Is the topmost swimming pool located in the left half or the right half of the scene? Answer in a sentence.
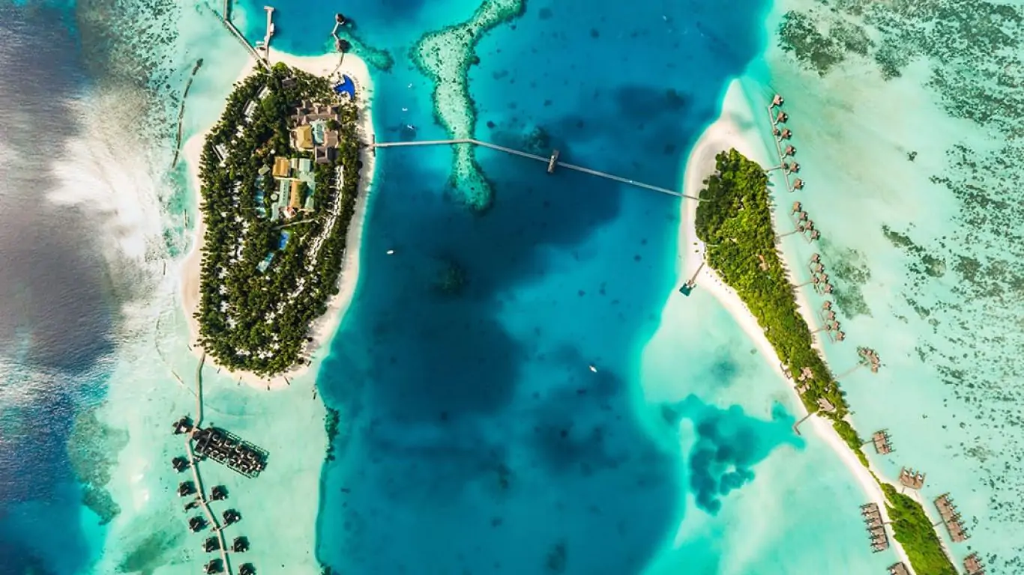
It is on the left.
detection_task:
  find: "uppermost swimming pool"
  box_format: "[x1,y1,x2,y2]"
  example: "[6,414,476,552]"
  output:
[332,73,355,99]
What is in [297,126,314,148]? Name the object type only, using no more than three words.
building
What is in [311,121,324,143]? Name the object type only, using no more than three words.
swimming pool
